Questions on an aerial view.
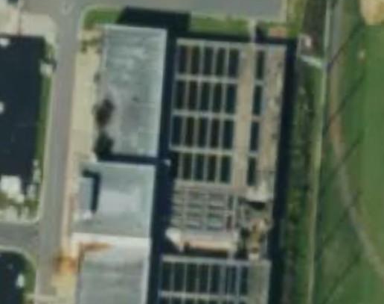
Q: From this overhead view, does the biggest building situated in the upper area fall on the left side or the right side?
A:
left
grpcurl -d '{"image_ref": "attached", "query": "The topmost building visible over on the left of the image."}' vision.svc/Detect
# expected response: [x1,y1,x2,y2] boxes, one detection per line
[94,26,166,164]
